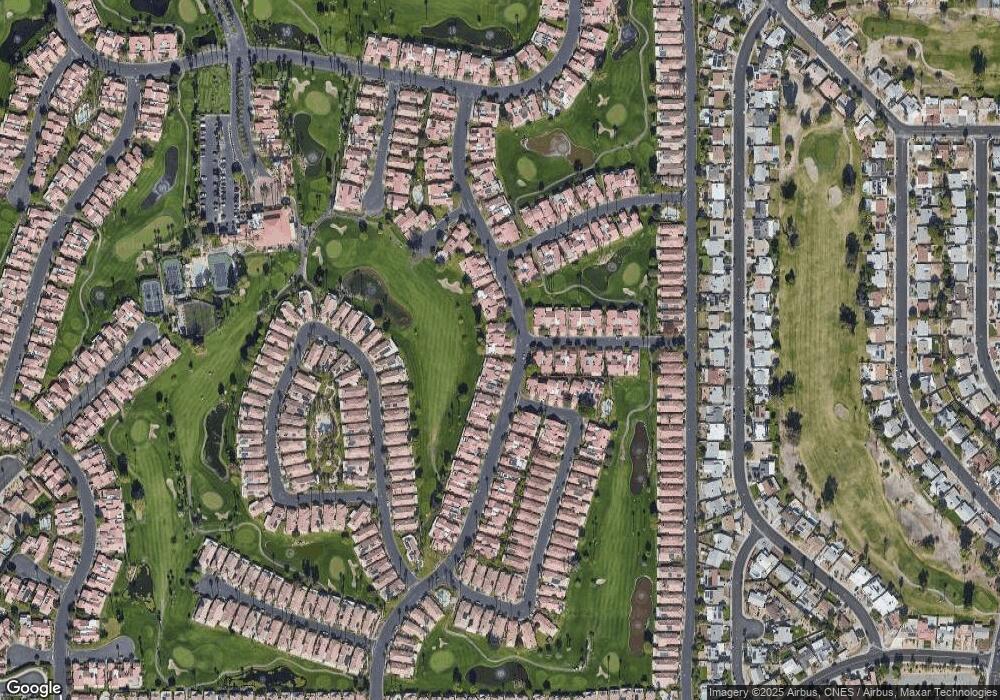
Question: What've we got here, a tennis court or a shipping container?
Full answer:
The image shows a tennis court.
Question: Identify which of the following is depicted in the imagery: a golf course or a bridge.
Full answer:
It is a golf course that can be seen here.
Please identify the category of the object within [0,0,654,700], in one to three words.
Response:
golf course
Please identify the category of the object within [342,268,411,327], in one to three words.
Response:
pond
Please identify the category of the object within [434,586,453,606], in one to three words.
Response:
swimming pool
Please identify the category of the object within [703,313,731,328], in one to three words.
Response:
house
